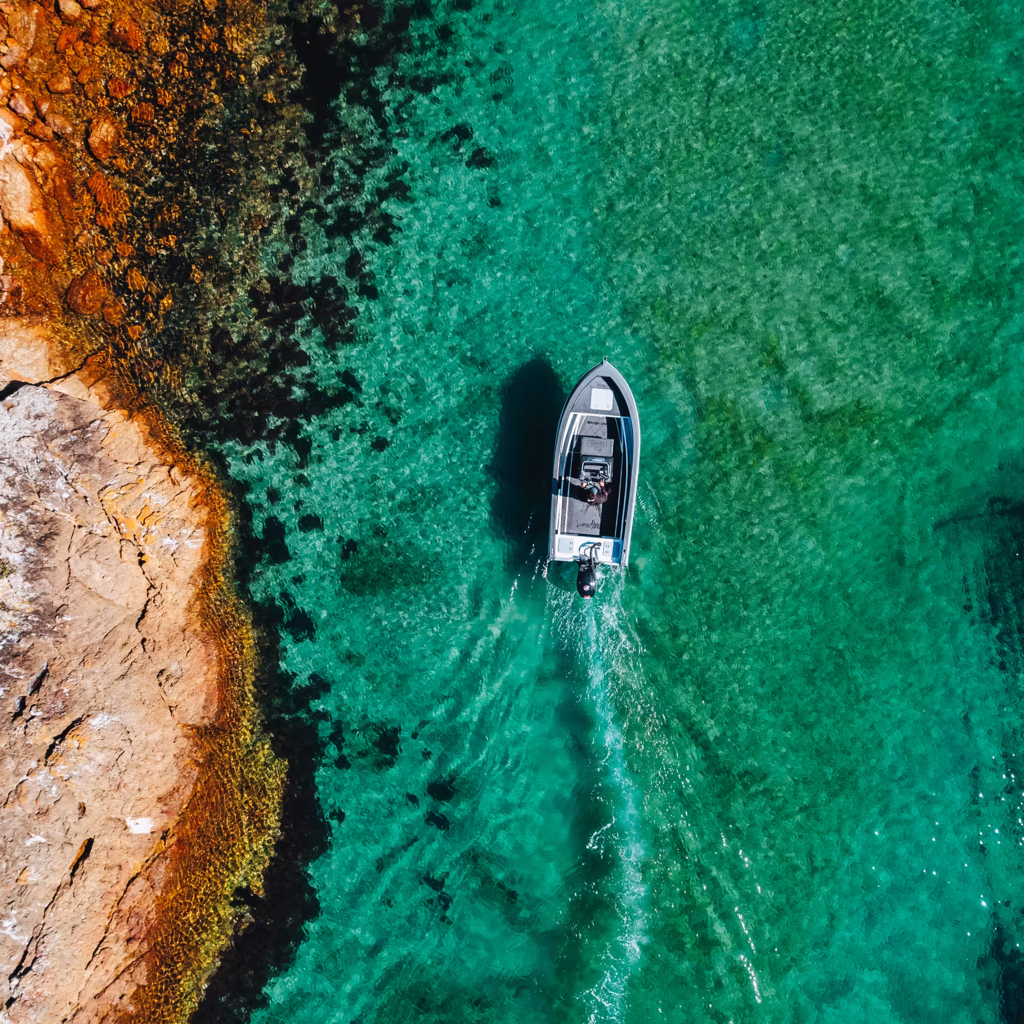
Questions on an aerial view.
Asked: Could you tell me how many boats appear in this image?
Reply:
one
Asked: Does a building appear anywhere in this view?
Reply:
No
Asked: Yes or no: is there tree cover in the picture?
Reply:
No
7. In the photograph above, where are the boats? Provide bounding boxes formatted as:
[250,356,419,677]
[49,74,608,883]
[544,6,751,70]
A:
[548,356,640,598]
